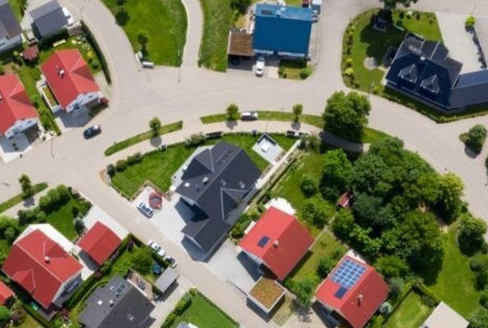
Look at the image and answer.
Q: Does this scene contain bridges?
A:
No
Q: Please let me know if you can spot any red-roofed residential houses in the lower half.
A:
Yes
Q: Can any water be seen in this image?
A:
No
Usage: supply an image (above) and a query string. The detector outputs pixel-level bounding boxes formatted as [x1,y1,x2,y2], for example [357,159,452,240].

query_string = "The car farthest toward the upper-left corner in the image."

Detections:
[83,126,101,138]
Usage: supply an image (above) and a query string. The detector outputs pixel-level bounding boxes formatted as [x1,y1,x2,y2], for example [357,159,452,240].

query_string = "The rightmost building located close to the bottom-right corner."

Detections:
[425,305,469,328]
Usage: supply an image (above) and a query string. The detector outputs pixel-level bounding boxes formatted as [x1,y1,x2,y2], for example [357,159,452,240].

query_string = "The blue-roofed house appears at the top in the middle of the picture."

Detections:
[254,4,313,66]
